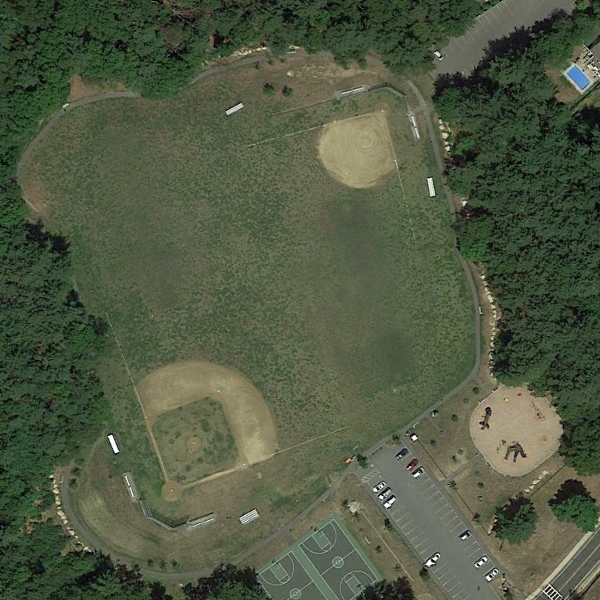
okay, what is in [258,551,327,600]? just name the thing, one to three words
basketball court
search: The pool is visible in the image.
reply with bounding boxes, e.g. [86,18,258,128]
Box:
[562,62,594,93]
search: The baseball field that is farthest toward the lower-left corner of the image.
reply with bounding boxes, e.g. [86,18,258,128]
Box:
[107,314,344,502]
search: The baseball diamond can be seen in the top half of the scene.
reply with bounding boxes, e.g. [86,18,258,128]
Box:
[245,107,414,238]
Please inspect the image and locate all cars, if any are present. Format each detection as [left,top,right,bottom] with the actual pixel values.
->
[379,489,391,500]
[425,553,441,565]
[412,468,425,479]
[405,460,418,471]
[486,570,499,580]
[373,482,386,492]
[432,50,445,61]
[384,496,397,507]
[475,557,488,568]
[459,531,471,541]
[396,449,408,460]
